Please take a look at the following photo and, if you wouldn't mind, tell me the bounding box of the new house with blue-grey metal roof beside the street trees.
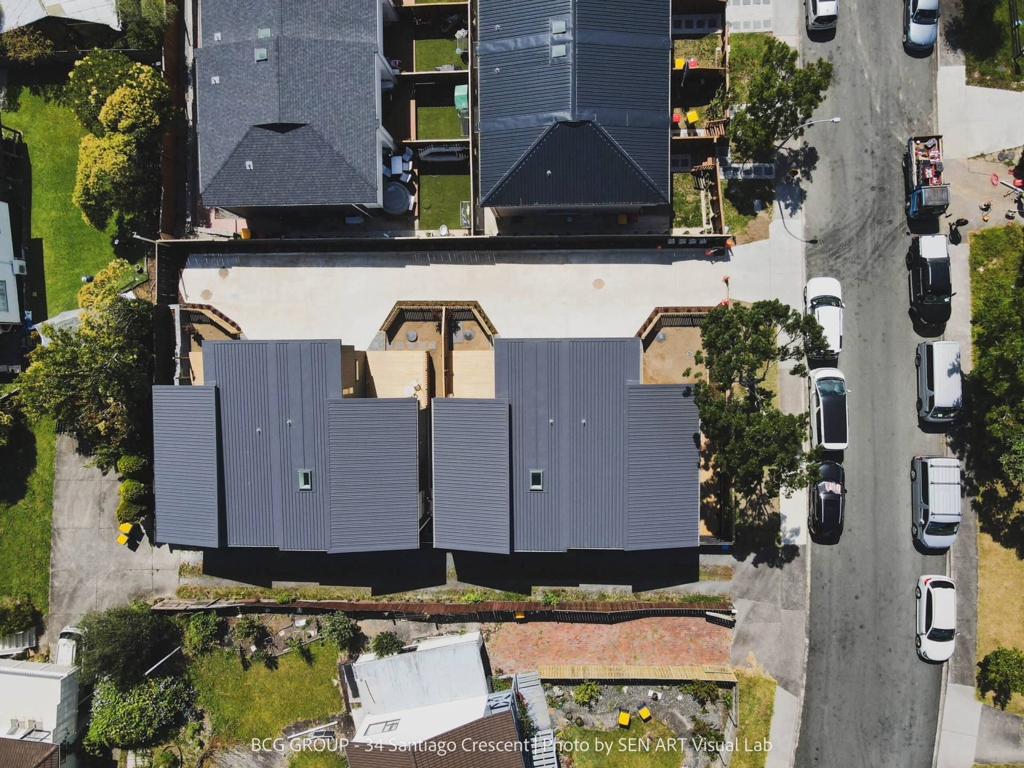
[430,336,702,554]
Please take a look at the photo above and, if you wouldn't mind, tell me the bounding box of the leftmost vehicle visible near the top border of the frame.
[798,0,840,33]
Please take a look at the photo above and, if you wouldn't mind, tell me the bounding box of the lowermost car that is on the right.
[910,573,960,658]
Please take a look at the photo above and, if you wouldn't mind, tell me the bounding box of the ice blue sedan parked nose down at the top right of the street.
[896,0,946,56]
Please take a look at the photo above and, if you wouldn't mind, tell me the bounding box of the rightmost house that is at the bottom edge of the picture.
[343,630,535,768]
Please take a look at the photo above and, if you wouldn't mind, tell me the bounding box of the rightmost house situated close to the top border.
[476,0,673,213]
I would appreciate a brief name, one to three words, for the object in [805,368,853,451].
car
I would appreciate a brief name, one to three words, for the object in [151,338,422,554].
house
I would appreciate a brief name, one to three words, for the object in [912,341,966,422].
van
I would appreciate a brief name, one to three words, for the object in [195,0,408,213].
house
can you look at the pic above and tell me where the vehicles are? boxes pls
[896,0,946,56]
[909,456,967,547]
[912,341,966,422]
[800,277,848,362]
[805,368,853,451]
[802,456,850,539]
[798,0,840,33]
[903,133,958,222]
[902,233,959,328]
[910,573,960,658]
